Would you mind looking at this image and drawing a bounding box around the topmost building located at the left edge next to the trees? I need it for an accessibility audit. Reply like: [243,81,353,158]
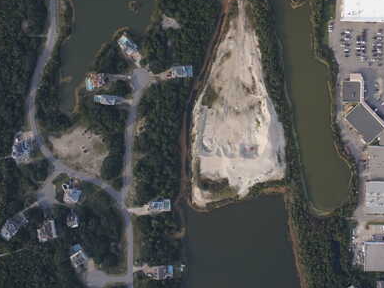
[13,133,37,163]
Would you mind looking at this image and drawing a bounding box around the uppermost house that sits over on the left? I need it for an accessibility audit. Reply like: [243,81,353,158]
[117,32,144,64]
